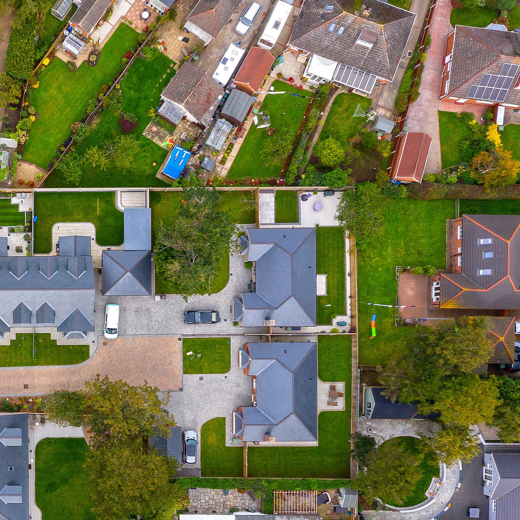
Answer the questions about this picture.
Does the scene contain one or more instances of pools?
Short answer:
Yes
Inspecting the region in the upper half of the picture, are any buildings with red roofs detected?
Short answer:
Yes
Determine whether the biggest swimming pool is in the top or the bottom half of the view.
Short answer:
top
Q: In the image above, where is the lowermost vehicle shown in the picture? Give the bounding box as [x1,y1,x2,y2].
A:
[183,430,199,465]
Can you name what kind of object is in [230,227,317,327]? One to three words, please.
house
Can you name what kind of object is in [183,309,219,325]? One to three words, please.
car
